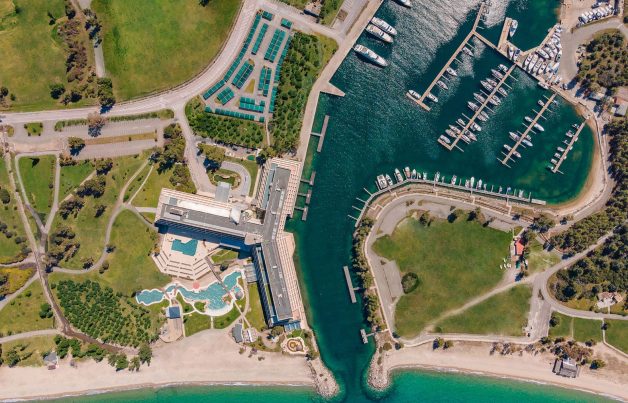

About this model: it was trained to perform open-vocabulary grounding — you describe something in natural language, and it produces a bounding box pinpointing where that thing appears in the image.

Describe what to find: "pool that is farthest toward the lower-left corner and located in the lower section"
[136,289,164,305]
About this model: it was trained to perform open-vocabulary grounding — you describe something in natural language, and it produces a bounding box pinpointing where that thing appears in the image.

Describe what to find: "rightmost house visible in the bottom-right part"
[596,292,623,308]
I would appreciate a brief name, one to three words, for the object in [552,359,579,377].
building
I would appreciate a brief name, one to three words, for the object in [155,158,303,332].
building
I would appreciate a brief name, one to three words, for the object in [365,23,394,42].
boat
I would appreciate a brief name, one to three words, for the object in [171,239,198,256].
swimming pool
